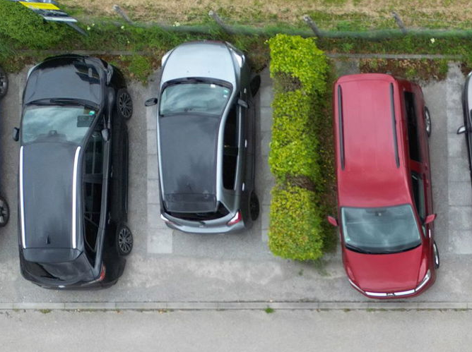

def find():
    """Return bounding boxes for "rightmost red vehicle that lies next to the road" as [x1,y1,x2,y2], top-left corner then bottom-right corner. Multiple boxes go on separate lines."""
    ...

[322,75,438,302]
